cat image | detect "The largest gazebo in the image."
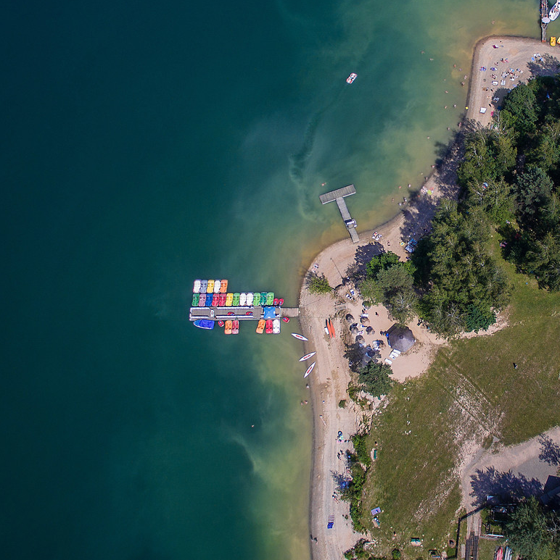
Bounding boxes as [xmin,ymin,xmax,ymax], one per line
[385,324,416,354]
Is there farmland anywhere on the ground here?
No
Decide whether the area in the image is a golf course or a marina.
marina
